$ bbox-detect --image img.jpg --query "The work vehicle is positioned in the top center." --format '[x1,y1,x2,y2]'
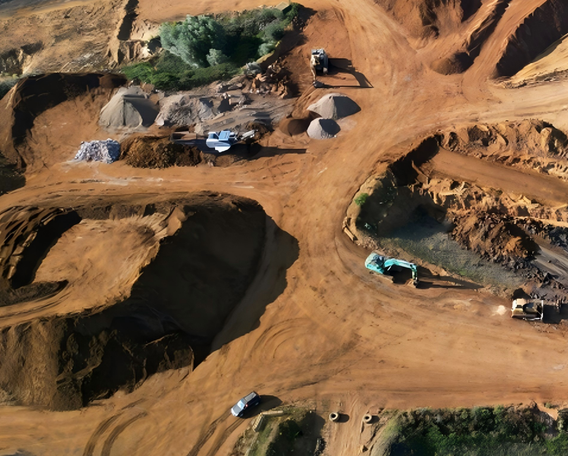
[307,52,329,86]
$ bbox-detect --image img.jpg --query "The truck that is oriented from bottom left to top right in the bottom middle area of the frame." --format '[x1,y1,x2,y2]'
[226,394,263,423]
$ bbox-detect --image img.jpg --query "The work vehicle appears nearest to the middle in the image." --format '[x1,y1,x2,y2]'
[366,251,423,283]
